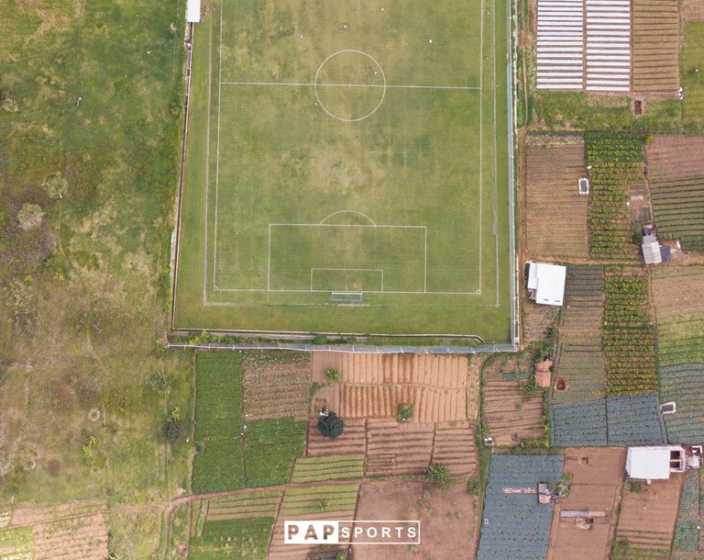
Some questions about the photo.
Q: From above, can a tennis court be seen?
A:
No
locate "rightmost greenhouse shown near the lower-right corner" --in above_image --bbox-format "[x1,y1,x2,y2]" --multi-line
[627,447,690,483]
